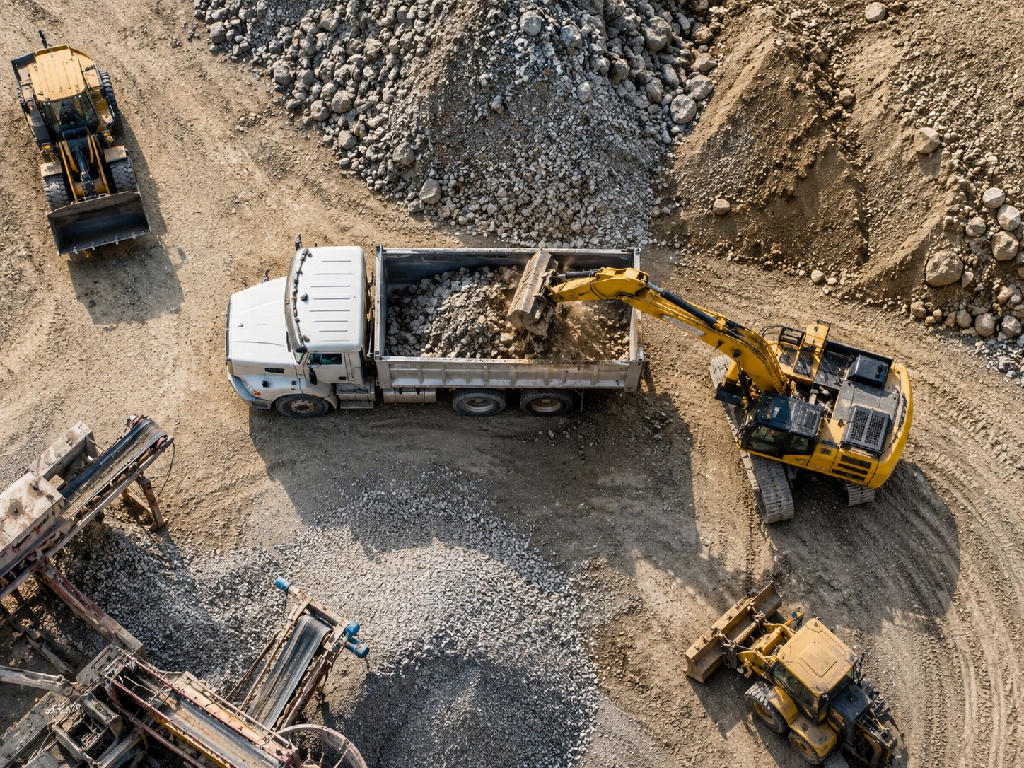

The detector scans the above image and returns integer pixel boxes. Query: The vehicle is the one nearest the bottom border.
[674,577,899,768]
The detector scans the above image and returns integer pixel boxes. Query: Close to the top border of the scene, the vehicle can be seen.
[19,29,155,260]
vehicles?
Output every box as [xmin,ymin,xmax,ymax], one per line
[510,244,913,523]
[19,29,155,260]
[674,577,899,768]
[220,233,646,415]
